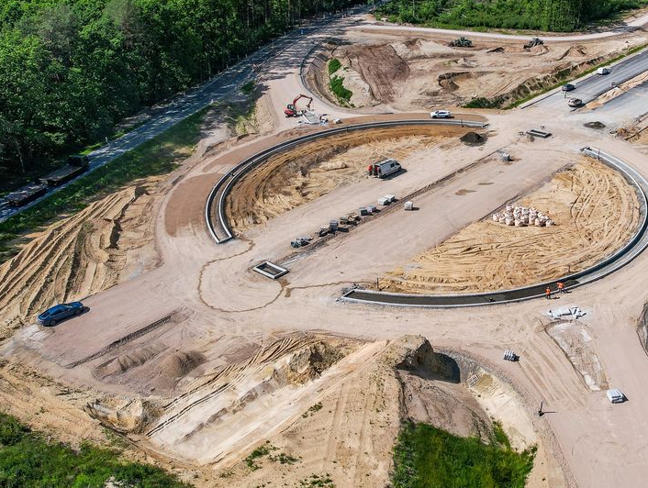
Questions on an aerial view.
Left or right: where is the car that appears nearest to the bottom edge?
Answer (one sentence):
The car that appears nearest to the bottom edge appears in the left half of the scene.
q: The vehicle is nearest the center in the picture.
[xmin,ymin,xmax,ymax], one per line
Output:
[365,154,405,178]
